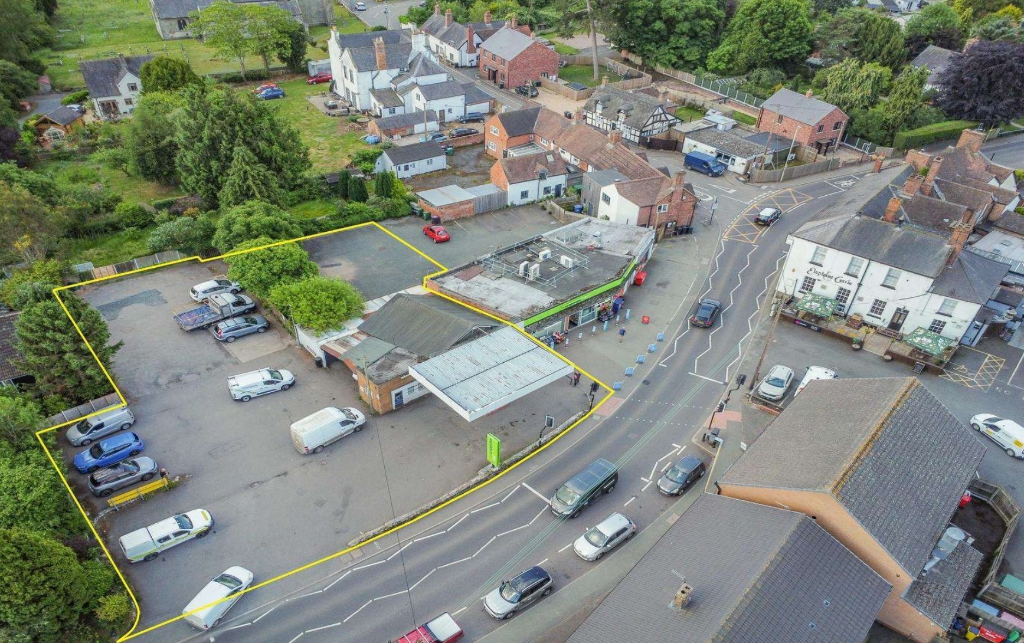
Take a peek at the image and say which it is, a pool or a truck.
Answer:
truck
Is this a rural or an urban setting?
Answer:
urban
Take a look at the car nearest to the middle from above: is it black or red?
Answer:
red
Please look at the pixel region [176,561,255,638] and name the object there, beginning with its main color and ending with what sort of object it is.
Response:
white van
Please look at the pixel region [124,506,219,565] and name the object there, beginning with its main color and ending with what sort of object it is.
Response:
white truck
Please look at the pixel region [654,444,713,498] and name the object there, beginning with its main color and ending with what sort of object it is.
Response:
gray car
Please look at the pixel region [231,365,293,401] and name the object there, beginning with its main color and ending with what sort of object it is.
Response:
white van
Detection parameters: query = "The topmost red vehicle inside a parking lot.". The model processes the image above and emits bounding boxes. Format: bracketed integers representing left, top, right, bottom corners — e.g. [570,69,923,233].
[422,221,453,244]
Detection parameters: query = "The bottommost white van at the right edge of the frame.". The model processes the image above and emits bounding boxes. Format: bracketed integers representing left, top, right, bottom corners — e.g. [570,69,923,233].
[970,410,1024,461]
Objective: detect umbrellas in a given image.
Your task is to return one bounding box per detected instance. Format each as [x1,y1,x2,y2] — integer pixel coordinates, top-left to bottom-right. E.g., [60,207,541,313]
[794,290,838,321]
[904,327,951,359]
